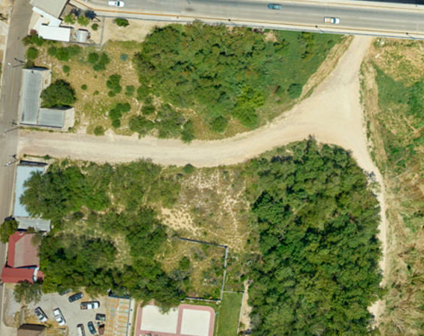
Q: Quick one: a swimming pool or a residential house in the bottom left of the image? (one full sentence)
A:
There is a residential house in the bottom left of the image.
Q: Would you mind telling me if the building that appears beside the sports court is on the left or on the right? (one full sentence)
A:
The building that appears beside the sports court appears in the left half of the scene.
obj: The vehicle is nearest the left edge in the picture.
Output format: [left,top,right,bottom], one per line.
[32,309,48,323]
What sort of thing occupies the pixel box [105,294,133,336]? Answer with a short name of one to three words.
building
